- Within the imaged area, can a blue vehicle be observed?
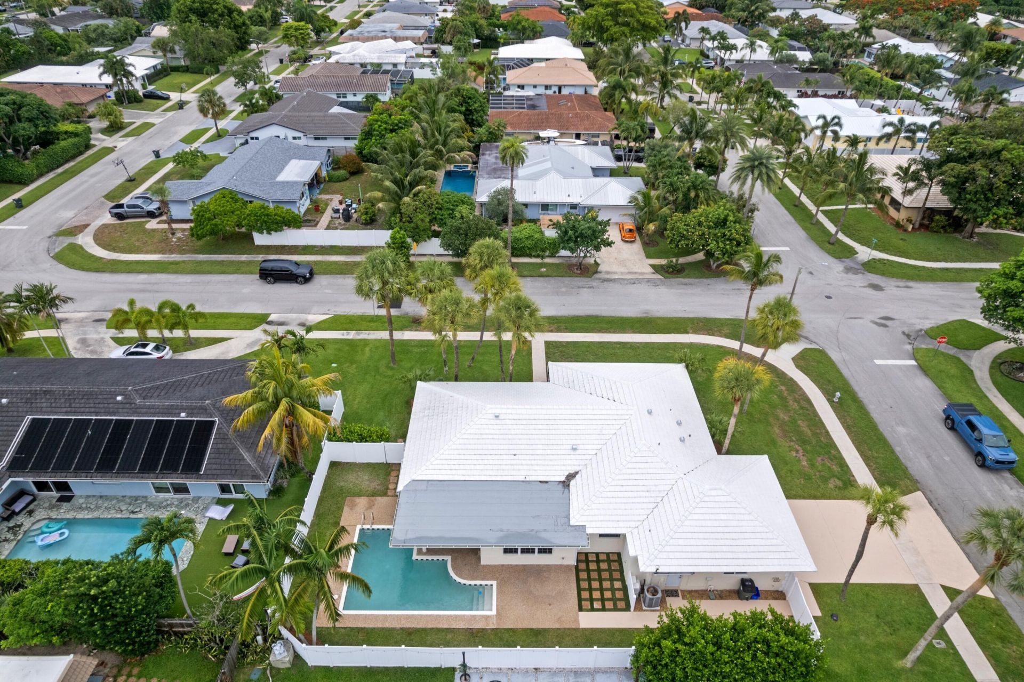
Yes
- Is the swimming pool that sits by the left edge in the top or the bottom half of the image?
bottom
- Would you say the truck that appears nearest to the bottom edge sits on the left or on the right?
right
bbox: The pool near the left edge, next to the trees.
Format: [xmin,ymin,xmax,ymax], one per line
[5,517,187,572]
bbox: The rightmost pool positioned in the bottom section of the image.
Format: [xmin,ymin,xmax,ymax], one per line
[338,513,497,613]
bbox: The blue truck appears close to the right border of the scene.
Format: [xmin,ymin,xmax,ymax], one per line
[947,407,1021,476]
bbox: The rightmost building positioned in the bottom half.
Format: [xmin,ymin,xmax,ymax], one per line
[390,361,818,588]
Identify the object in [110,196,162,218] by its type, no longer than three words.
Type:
truck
